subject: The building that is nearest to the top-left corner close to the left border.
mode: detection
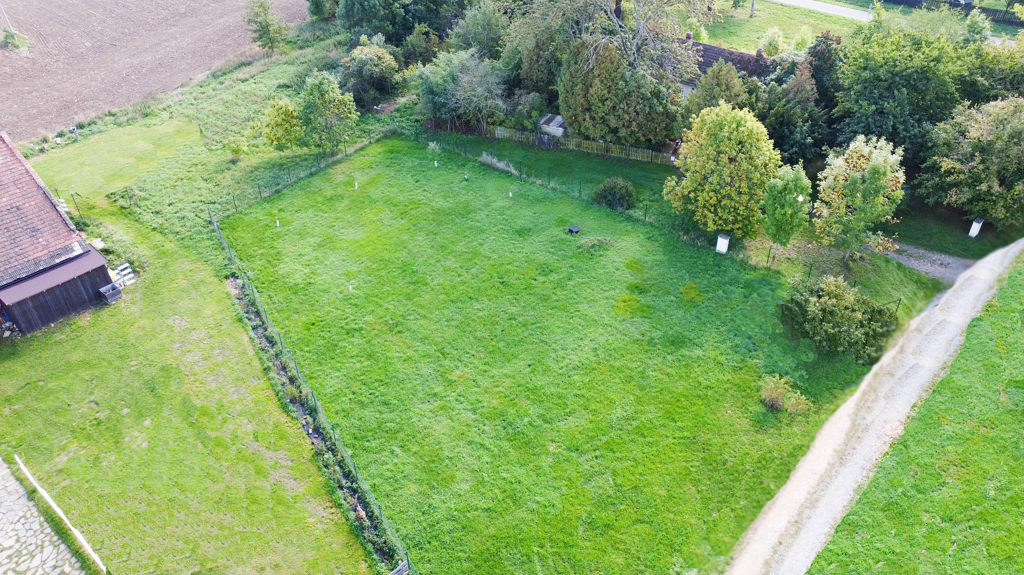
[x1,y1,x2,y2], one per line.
[0,129,116,335]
